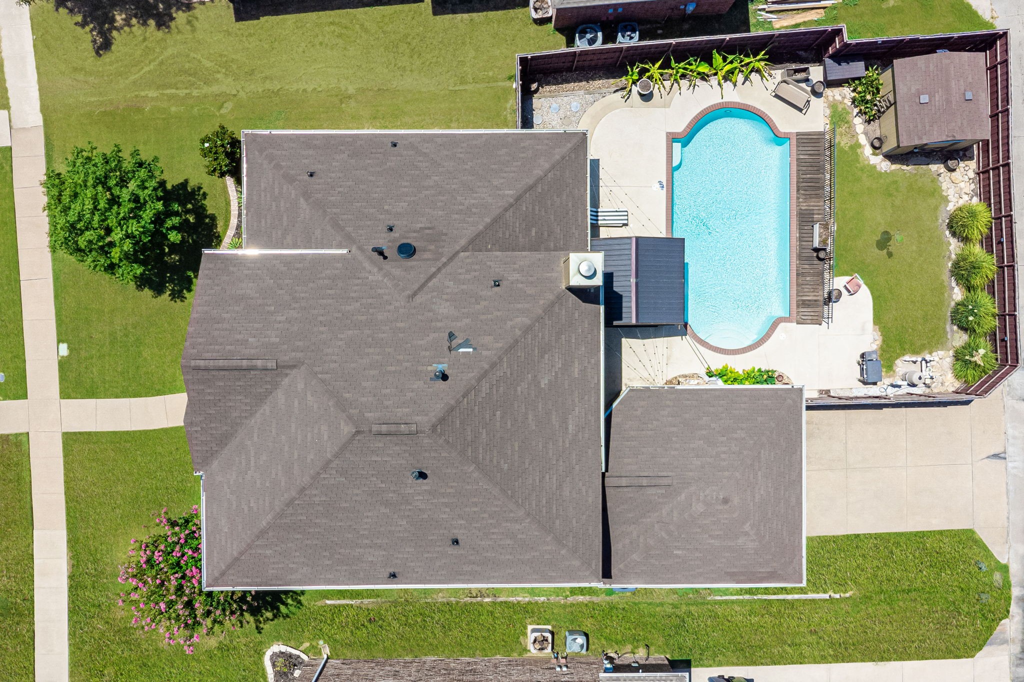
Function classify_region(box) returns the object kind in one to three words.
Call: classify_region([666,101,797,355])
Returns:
swimming pool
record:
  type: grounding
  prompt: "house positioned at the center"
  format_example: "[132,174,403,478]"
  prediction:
[181,129,808,588]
